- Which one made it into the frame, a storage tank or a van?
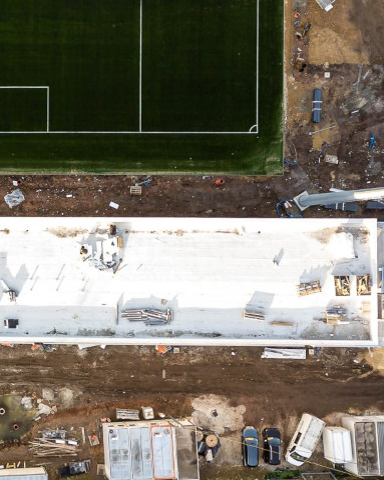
van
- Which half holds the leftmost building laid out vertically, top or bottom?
bottom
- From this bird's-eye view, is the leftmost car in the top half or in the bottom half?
bottom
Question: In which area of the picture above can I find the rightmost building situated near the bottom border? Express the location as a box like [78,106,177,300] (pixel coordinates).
[168,420,199,480]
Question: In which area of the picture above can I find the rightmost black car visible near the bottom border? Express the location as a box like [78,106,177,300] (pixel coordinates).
[263,427,284,464]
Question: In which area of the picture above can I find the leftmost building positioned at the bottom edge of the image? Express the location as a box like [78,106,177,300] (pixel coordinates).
[105,421,133,480]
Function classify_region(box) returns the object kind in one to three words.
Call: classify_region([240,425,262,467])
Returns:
car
